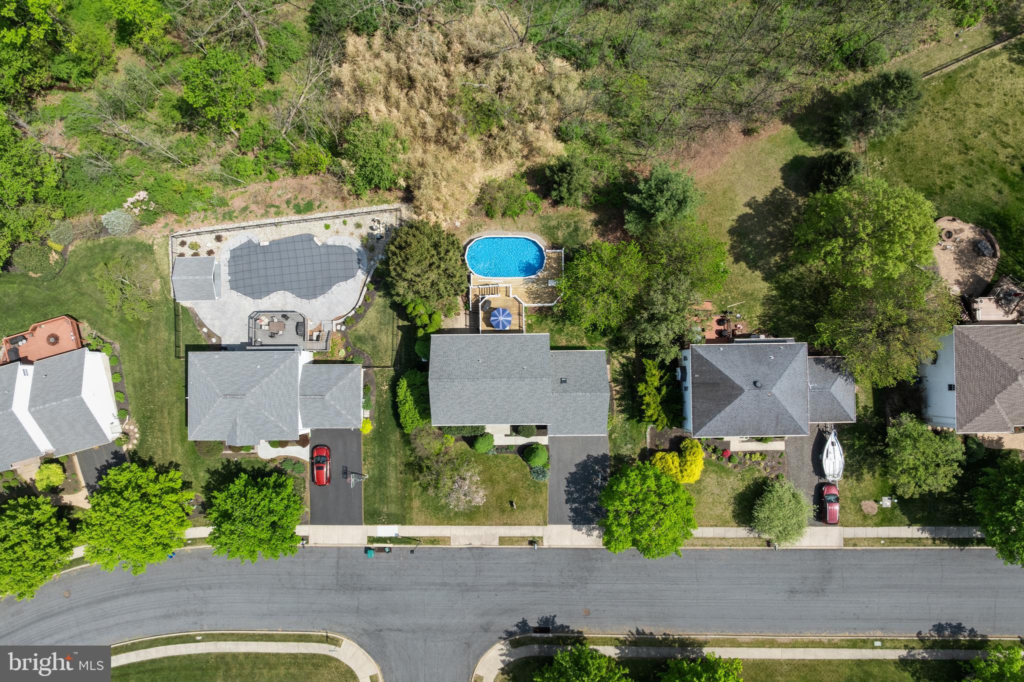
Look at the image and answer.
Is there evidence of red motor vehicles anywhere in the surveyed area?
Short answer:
Yes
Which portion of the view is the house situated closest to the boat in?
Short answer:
right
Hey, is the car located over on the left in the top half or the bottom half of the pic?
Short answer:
bottom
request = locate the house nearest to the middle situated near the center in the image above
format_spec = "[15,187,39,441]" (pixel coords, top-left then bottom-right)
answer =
[428,333,610,436]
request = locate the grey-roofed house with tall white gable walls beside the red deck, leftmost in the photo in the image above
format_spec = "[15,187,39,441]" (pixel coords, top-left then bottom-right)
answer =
[0,346,133,468]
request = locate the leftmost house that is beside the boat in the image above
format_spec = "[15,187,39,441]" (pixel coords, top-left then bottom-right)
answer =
[676,337,856,438]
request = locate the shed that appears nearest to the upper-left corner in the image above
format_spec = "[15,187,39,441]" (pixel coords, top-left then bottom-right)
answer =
[171,255,221,302]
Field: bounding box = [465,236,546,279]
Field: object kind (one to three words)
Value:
swimming pool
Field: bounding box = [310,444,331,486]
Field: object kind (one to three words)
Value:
car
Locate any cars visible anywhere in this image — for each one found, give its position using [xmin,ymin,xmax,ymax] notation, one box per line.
[310,444,331,486]
[820,482,843,524]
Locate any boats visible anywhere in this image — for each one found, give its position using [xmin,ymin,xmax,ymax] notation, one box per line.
[822,423,845,493]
